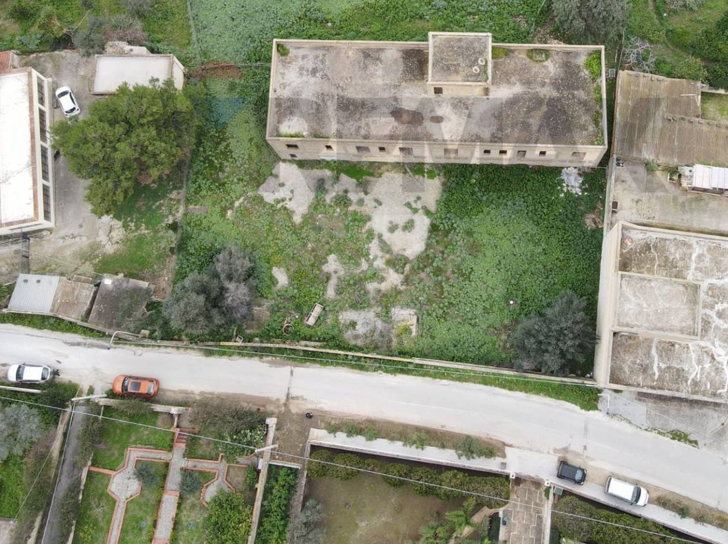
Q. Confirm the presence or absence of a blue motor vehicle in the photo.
No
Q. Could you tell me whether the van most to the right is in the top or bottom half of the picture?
bottom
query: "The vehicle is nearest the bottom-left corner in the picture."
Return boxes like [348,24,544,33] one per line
[6,361,55,385]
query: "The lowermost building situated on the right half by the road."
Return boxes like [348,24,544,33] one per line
[595,222,728,405]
